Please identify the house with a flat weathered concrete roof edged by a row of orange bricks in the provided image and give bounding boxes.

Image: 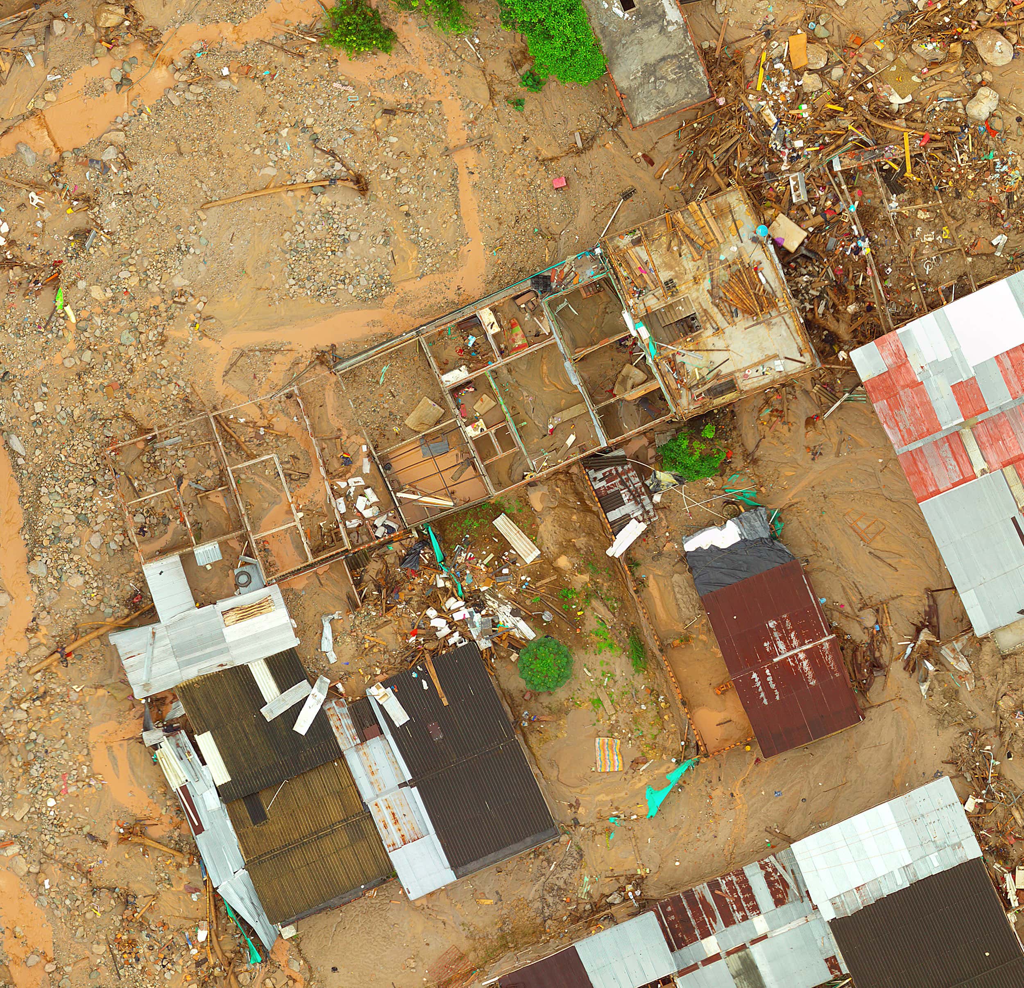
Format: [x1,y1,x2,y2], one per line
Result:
[580,0,717,137]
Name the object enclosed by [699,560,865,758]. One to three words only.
house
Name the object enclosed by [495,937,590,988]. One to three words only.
house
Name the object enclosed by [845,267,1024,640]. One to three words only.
warehouse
